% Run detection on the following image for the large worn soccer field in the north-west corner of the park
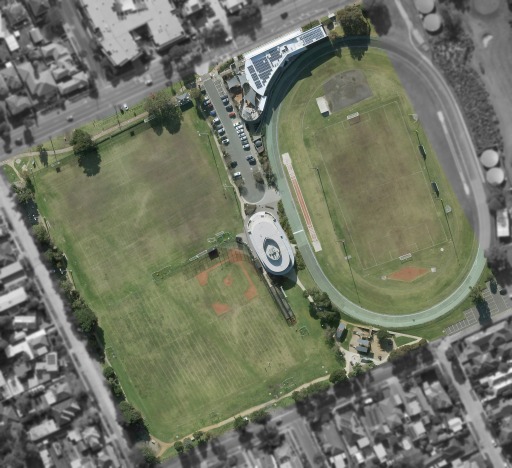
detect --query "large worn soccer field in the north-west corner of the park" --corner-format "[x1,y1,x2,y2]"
[33,114,241,308]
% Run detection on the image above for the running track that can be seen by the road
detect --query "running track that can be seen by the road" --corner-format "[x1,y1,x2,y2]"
[262,34,494,329]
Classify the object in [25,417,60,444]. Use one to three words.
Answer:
house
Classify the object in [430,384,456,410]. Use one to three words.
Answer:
house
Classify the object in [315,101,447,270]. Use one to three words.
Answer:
soccer field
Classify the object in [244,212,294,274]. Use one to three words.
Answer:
building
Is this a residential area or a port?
residential area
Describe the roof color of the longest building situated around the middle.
white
